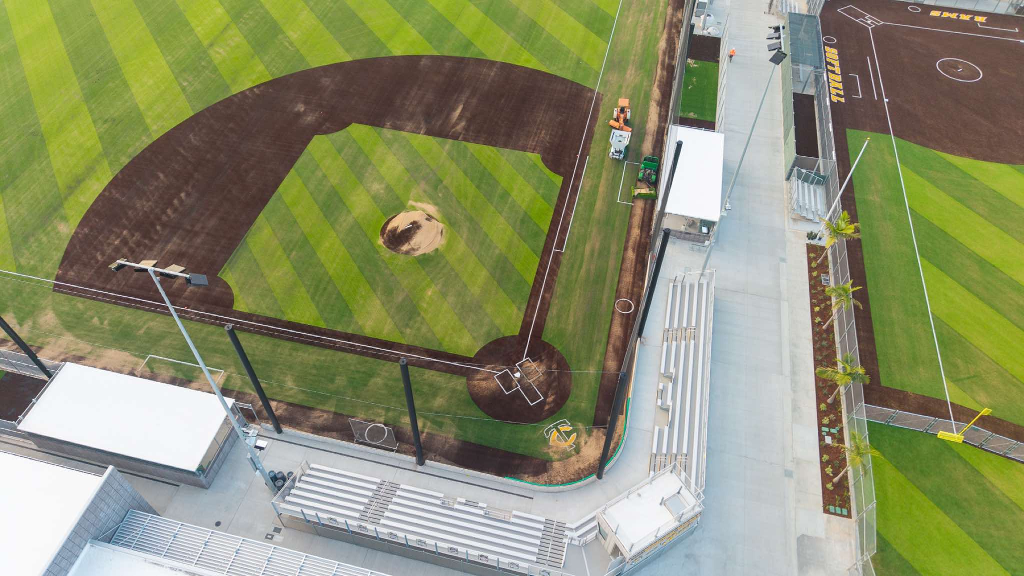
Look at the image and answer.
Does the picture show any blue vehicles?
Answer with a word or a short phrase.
No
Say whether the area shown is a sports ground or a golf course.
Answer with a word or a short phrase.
sports ground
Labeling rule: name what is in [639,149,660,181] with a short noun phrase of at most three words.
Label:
vehicle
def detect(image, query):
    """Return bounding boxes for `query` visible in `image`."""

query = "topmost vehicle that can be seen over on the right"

[608,97,632,134]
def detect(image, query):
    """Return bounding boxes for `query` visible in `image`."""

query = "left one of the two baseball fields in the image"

[0,0,685,483]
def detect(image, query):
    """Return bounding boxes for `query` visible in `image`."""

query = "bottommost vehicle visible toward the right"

[633,178,657,200]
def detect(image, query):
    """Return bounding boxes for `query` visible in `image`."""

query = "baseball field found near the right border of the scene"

[809,0,1024,467]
